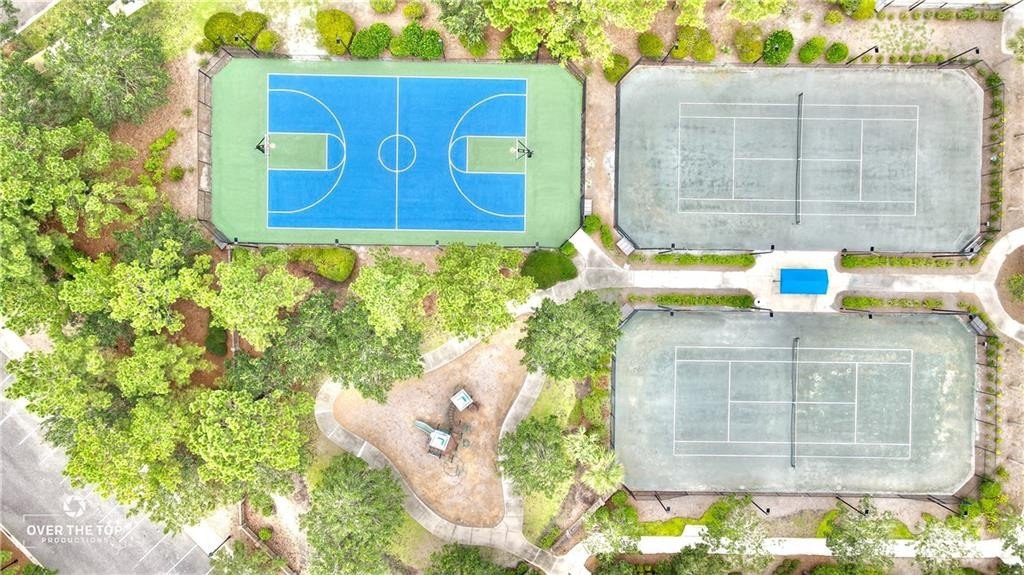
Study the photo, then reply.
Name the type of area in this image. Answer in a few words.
sports ground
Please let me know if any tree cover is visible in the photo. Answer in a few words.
Yes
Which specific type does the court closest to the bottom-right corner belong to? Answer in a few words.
tennis court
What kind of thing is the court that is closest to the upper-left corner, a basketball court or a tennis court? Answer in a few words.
basketball court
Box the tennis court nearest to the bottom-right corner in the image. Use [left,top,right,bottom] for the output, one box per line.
[611,310,977,495]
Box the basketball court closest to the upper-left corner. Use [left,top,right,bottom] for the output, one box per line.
[211,57,583,247]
